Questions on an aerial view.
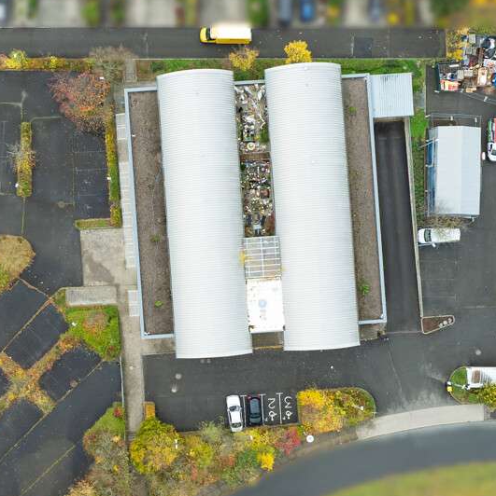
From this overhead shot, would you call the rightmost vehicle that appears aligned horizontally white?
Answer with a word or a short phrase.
Yes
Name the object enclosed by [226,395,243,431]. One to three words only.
car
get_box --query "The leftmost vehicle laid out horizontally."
[198,24,254,46]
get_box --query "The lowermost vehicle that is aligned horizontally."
[414,227,461,246]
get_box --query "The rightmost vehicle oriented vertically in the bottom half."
[246,395,263,427]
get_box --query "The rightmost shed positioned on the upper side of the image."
[429,126,481,217]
